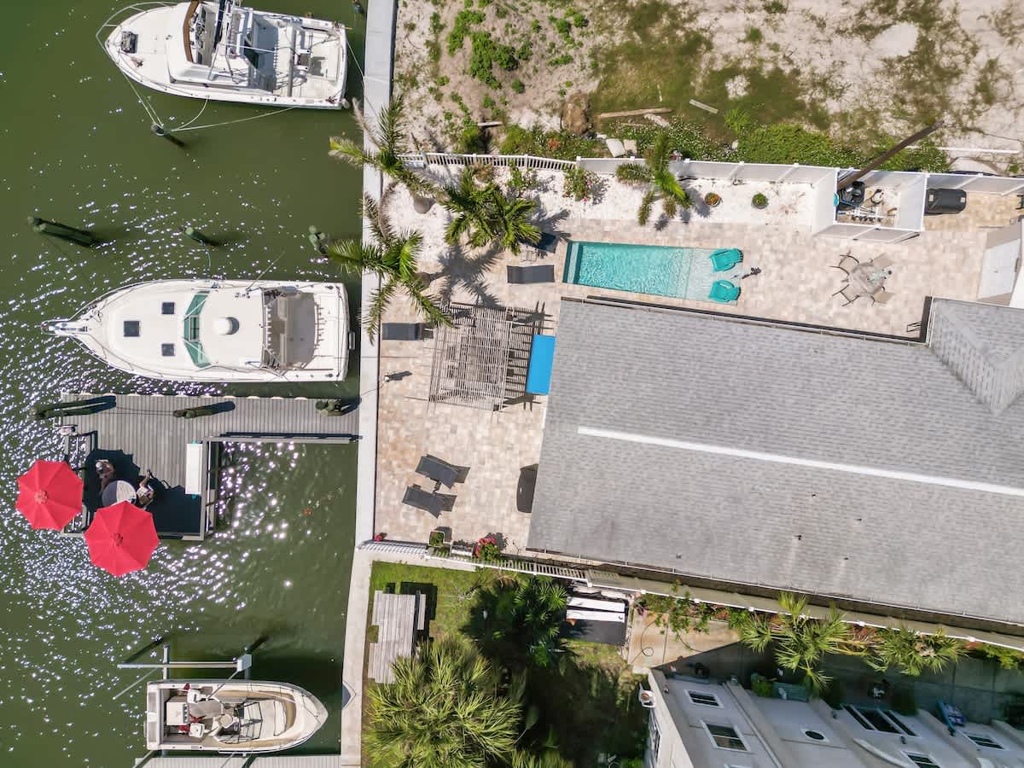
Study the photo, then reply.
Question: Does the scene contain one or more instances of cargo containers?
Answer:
No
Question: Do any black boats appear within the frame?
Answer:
No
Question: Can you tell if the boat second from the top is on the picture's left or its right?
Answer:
left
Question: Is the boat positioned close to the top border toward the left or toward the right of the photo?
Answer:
left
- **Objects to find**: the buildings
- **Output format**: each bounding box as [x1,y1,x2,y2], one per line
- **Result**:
[526,295,1024,627]
[645,666,1024,768]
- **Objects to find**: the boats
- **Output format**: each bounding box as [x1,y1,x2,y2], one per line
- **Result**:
[41,251,354,384]
[143,677,329,754]
[96,0,352,115]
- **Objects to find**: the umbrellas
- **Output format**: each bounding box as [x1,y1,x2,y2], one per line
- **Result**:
[17,461,92,528]
[87,500,160,575]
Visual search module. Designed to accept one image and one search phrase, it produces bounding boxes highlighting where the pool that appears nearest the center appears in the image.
[559,238,748,309]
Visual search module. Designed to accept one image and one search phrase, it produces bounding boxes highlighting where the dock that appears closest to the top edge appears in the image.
[61,390,360,541]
